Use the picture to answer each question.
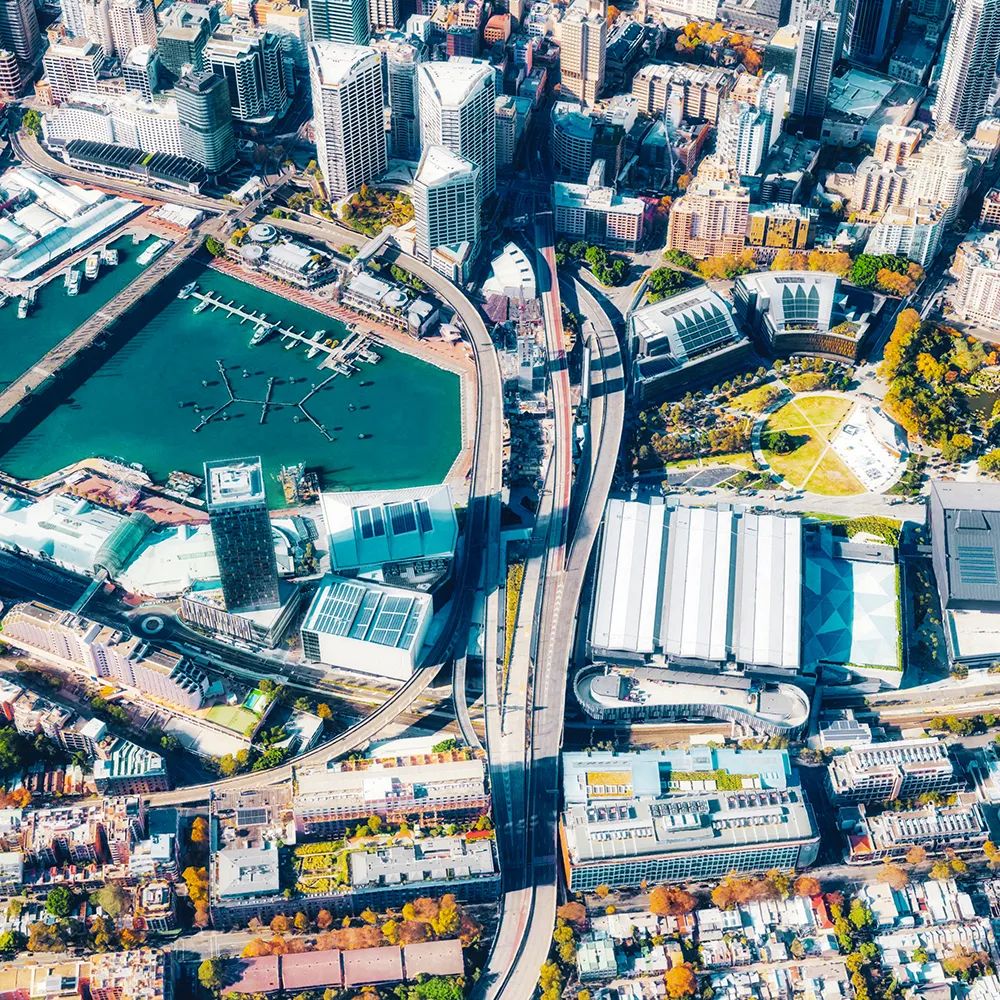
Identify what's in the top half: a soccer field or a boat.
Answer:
boat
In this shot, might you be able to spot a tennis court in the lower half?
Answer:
Yes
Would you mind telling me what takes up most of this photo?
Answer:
buildings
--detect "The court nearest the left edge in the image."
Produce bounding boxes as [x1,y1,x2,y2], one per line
[204,698,262,731]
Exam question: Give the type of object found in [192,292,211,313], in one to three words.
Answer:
boat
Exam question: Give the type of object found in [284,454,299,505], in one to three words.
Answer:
ship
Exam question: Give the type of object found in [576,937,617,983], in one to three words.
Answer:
house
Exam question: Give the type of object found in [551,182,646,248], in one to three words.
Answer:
building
